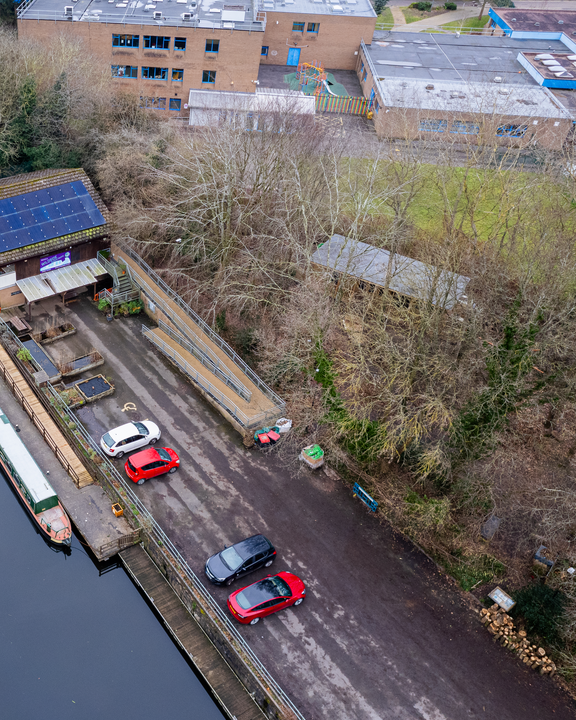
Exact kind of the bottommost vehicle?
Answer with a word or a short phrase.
automobile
